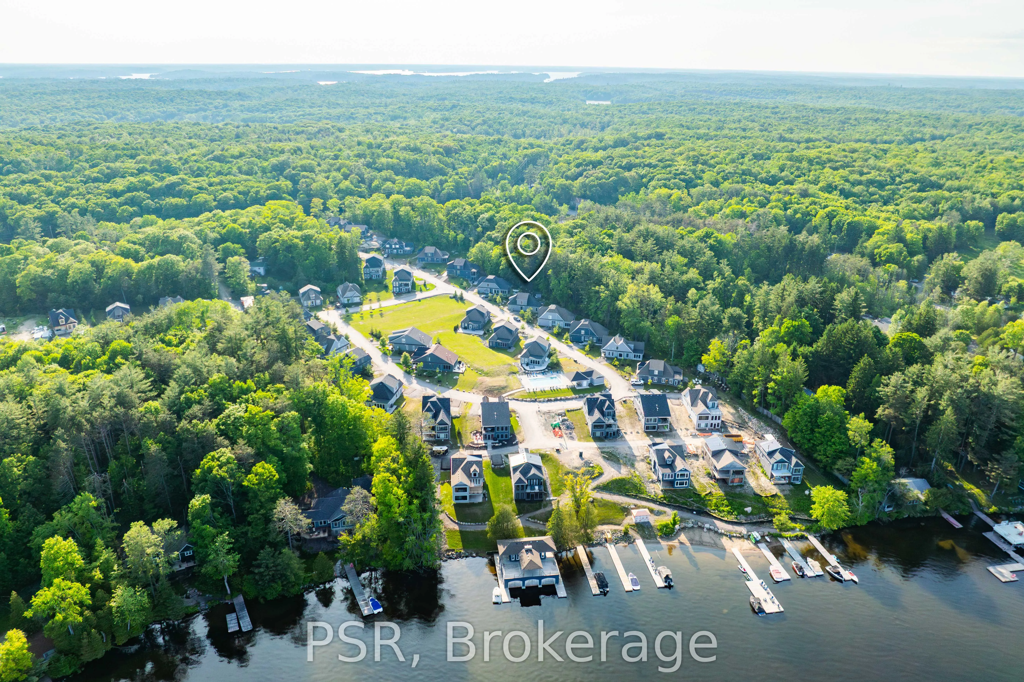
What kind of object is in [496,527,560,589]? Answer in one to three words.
building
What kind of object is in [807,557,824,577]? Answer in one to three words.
boat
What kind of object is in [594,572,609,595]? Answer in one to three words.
boat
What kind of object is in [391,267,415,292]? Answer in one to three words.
house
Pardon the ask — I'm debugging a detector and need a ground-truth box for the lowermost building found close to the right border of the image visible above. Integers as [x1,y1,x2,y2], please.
[992,519,1024,552]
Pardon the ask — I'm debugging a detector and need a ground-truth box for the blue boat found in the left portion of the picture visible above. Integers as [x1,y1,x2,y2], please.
[369,597,382,615]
